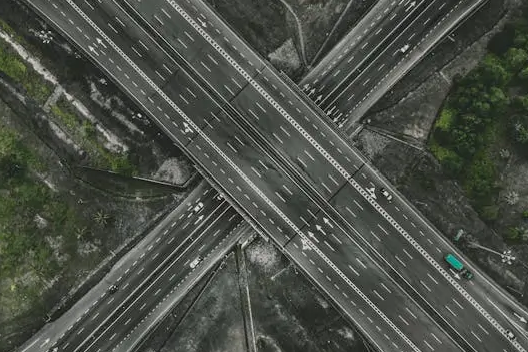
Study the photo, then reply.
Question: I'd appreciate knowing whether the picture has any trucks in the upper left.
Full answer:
No, no truck is visible in the upper left.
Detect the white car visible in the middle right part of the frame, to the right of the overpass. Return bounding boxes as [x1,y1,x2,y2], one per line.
[379,186,394,201]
